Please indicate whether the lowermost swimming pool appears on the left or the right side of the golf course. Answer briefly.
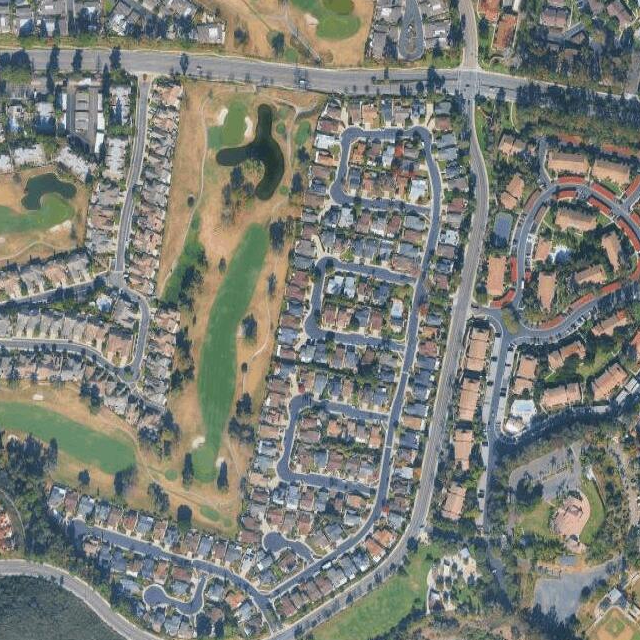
right of it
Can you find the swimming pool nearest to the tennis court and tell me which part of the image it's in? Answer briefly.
right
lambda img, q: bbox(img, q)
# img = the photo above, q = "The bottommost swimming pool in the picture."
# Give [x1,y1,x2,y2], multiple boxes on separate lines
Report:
[511,399,536,425]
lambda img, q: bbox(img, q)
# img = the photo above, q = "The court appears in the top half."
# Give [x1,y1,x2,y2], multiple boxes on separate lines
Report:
[491,211,512,247]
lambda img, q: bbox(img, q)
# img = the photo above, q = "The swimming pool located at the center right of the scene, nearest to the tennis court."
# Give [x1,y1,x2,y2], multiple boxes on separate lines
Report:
[552,244,572,265]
